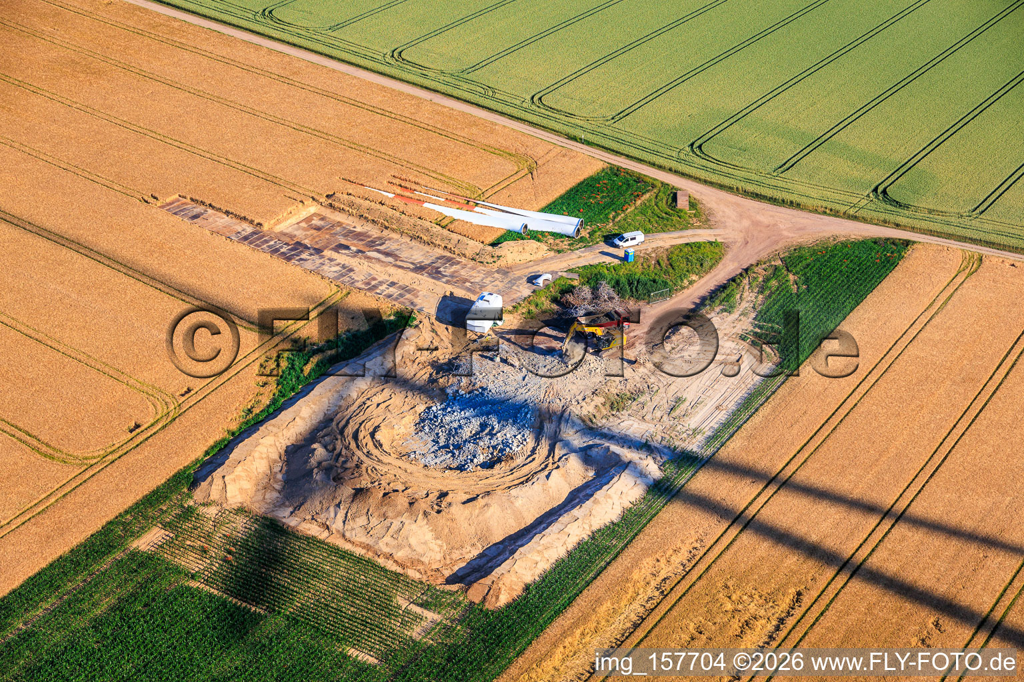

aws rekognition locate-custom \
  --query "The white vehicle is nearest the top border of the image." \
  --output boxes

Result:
[613,228,644,247]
